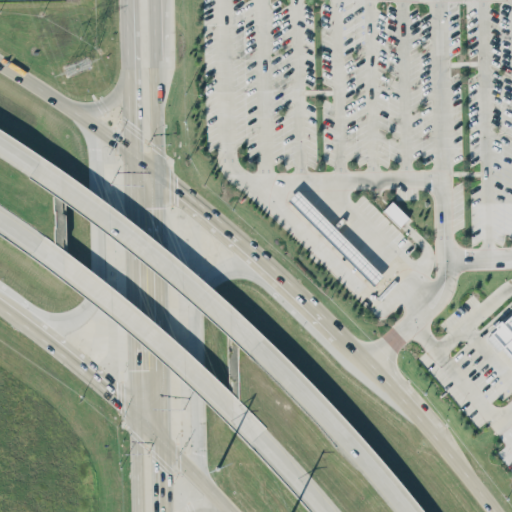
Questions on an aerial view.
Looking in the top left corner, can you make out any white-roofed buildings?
No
